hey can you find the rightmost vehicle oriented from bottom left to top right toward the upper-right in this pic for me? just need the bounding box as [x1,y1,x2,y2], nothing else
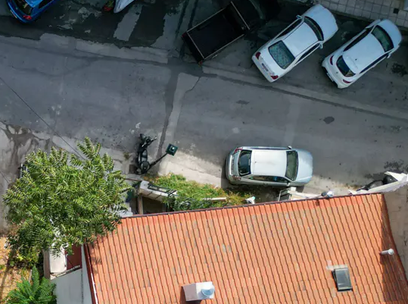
[311,18,399,97]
